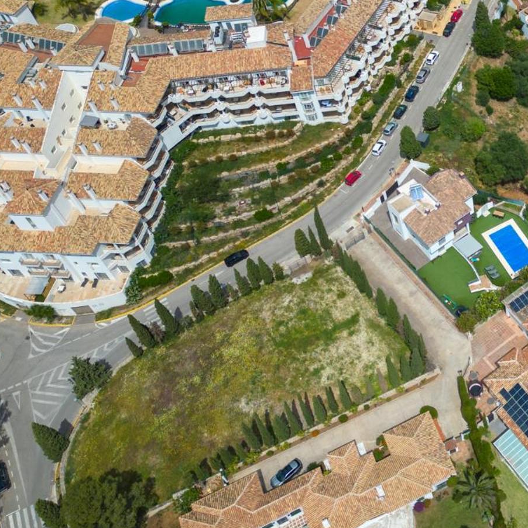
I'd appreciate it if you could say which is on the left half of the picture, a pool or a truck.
pool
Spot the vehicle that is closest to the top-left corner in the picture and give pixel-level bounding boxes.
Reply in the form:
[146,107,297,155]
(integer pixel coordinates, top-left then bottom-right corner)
[223,249,250,266]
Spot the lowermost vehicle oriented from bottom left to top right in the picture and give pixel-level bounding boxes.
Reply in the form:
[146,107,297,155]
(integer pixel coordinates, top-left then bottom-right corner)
[269,457,304,488]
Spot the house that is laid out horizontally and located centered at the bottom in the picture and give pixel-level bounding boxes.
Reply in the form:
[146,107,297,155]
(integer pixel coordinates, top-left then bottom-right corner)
[177,411,454,528]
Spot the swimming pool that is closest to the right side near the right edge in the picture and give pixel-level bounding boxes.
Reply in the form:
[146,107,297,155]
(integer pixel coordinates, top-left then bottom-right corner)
[479,215,528,282]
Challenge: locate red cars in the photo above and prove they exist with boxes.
[448,8,465,22]
[343,170,363,185]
